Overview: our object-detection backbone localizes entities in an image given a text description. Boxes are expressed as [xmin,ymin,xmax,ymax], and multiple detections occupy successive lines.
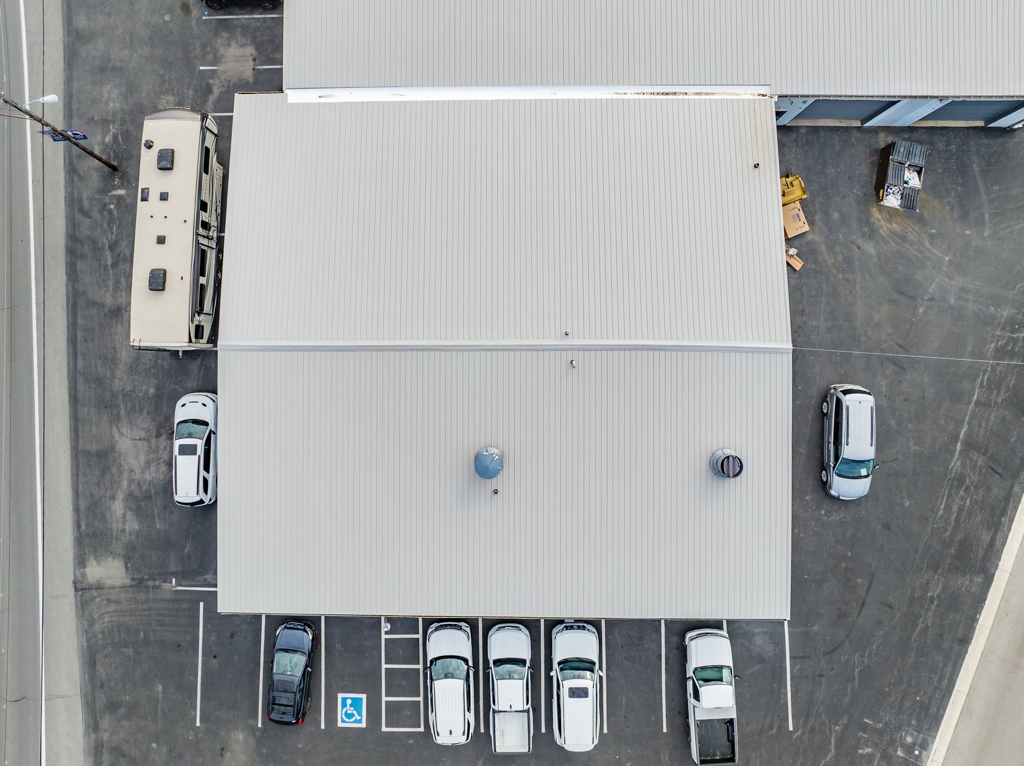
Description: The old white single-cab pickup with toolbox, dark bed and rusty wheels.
[684,627,739,766]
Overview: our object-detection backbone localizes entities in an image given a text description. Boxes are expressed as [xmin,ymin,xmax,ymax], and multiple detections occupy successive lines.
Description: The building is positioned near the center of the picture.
[215,85,794,618]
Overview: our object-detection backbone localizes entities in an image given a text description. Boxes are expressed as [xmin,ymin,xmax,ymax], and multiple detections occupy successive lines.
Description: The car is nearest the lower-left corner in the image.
[263,619,317,726]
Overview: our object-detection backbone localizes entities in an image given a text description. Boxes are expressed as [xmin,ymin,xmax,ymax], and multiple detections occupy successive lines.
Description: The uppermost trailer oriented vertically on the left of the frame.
[131,112,225,358]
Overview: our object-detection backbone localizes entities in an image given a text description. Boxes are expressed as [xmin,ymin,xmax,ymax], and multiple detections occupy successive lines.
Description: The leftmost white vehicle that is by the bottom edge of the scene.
[421,623,478,746]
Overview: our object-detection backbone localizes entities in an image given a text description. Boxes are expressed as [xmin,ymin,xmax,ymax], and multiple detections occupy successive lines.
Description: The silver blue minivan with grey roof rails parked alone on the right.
[824,385,880,498]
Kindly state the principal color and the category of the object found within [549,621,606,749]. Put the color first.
white car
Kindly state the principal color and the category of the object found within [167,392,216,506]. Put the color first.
white car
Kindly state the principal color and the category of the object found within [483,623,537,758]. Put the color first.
white truck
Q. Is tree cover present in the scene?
No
